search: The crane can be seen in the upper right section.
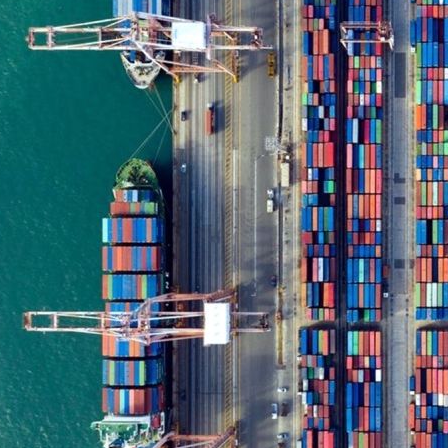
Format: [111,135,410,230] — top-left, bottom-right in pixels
[340,26,393,60]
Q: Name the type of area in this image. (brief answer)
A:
port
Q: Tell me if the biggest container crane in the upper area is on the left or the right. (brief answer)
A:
left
